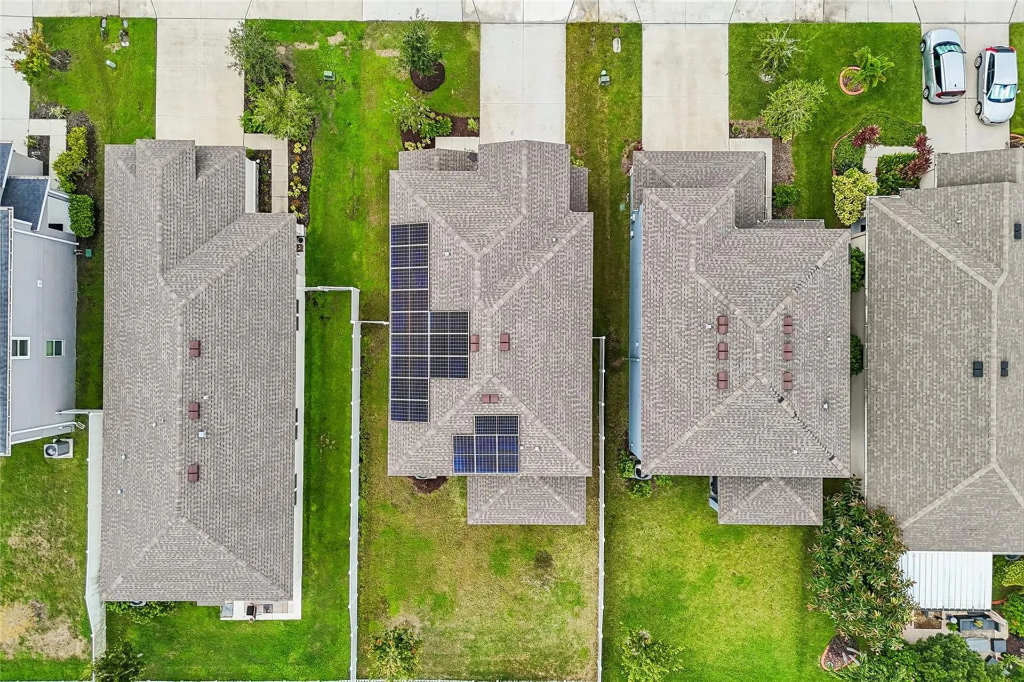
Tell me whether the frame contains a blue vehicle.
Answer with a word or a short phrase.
No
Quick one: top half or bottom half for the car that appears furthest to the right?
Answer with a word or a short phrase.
top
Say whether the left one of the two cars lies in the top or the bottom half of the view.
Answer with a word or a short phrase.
top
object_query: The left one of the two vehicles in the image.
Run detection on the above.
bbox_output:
[921,29,969,106]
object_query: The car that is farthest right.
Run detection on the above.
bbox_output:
[974,46,1021,127]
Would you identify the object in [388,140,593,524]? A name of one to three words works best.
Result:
house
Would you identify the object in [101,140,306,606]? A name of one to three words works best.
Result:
house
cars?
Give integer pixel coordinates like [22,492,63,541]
[974,46,1021,127]
[921,29,969,106]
